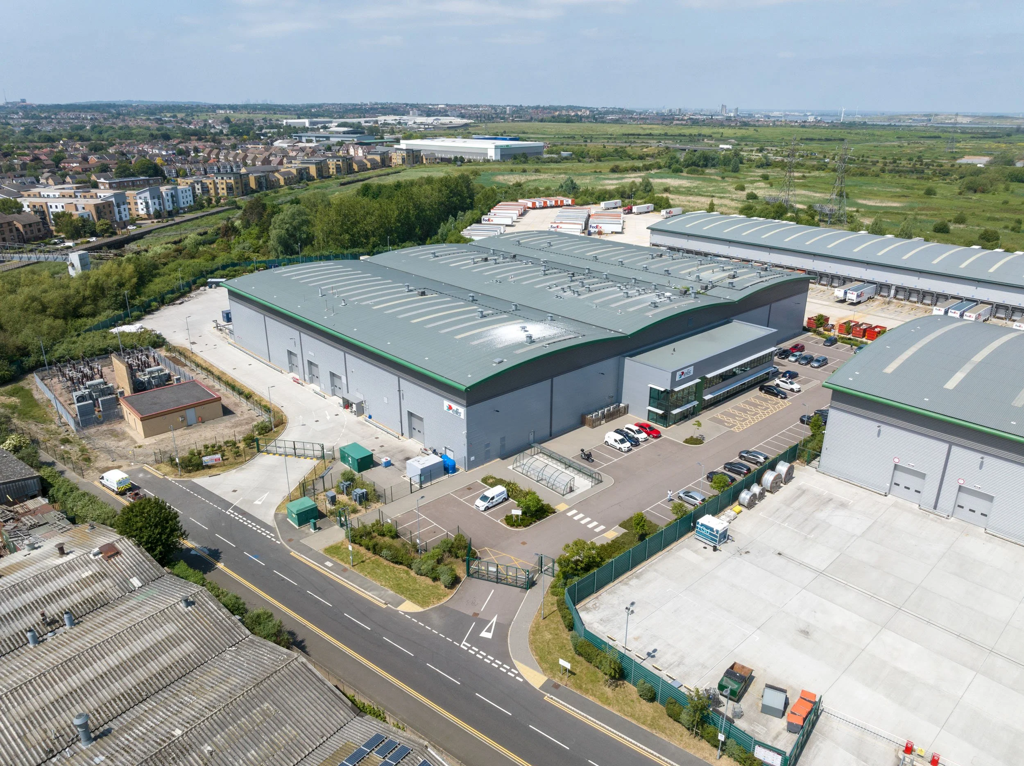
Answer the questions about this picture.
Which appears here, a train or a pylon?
pylon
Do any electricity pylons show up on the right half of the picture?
Yes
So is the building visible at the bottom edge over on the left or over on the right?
left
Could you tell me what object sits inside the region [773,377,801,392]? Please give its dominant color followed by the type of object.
white car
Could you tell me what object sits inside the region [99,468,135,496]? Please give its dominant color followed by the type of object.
white van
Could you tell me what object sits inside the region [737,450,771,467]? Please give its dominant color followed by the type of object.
gray car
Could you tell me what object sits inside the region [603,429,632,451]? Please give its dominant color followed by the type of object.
white vehicle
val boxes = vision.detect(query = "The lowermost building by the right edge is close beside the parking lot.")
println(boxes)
[815,315,1024,542]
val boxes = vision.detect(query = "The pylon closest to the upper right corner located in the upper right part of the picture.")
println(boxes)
[944,112,963,152]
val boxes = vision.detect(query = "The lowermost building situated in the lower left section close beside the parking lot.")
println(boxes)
[0,521,469,766]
